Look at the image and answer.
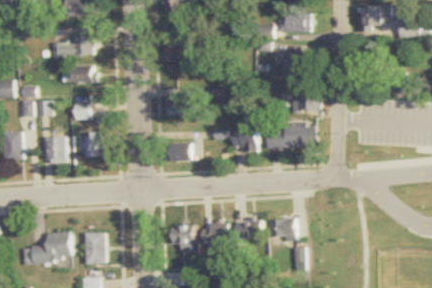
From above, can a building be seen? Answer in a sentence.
Yes, you can see a building in this photo.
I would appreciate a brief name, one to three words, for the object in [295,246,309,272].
building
